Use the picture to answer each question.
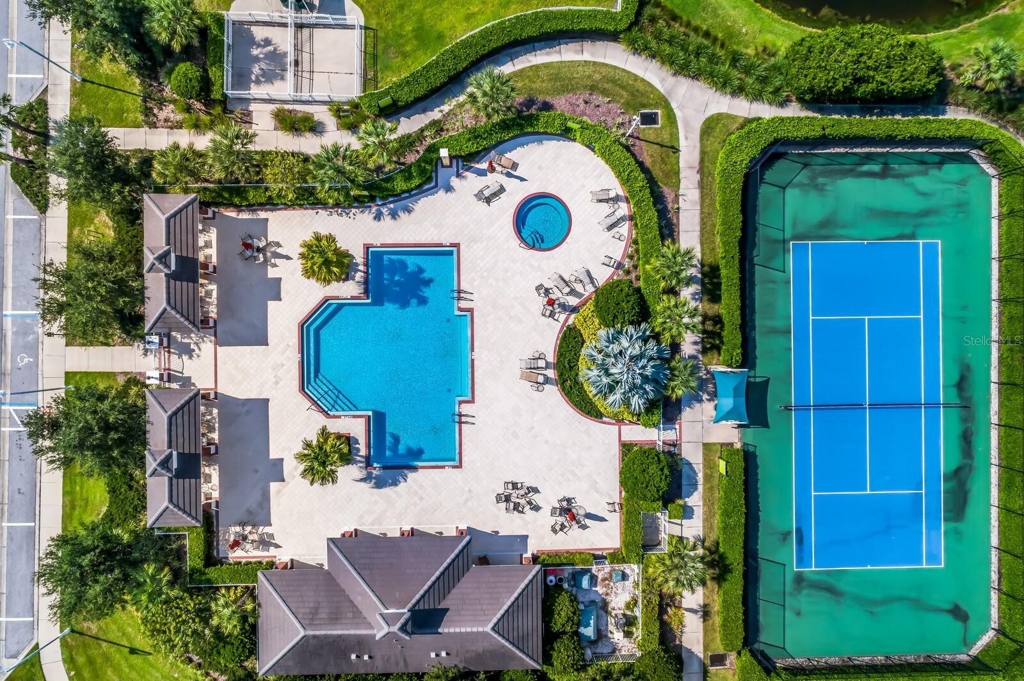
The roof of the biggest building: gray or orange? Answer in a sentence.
The color of the roof of the biggest building is gray.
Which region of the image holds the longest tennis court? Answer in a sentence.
The longest tennis court is located in the right region of the scene.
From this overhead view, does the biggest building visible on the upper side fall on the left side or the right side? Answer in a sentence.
The biggest building visible on the upper side sits on the left side.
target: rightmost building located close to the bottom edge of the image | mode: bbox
[257,527,543,677]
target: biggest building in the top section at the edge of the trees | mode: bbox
[141,193,217,333]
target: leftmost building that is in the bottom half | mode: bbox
[144,388,219,529]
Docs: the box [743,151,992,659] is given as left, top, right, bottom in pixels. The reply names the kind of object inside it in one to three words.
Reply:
tennis court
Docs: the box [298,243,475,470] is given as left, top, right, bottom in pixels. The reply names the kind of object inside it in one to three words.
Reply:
swimming pool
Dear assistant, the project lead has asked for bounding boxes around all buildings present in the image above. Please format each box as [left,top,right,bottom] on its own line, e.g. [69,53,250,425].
[257,527,543,677]
[144,388,219,529]
[141,193,217,333]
